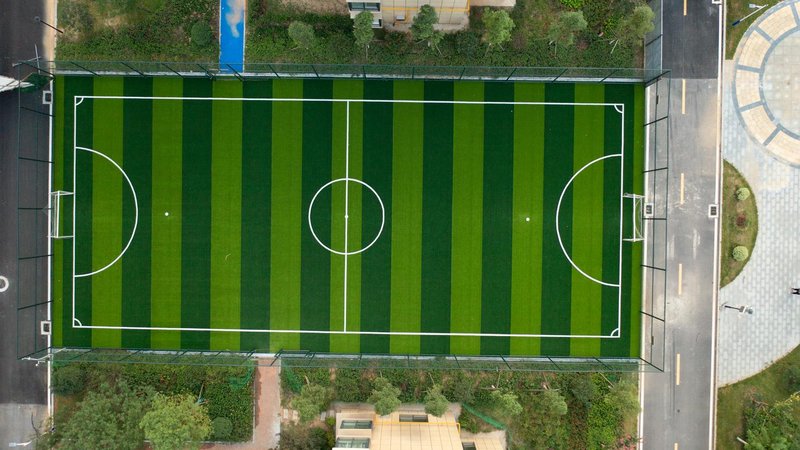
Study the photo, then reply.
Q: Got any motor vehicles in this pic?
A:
No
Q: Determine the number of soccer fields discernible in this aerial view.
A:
1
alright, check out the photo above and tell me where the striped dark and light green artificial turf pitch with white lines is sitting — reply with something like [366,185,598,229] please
[52,77,646,357]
